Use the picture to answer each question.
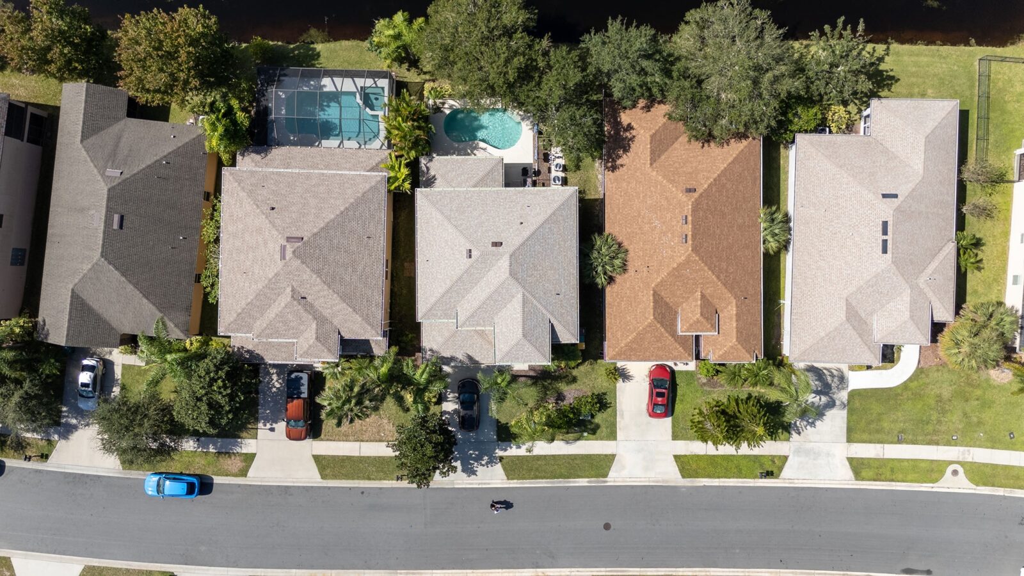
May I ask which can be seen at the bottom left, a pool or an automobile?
automobile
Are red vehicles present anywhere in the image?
Yes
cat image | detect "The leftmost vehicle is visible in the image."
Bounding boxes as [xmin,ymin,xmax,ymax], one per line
[75,356,110,411]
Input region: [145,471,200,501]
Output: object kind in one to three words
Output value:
car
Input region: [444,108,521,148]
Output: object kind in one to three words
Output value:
swimming pool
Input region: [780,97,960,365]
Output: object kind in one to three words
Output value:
house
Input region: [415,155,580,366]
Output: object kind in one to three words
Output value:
house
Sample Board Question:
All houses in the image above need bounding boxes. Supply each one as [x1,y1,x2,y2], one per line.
[38,83,214,348]
[415,155,580,366]
[780,97,960,365]
[603,97,764,364]
[217,147,393,364]
[0,93,48,318]
[1001,149,1024,354]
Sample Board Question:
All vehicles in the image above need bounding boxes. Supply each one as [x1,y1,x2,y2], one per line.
[283,370,314,438]
[145,471,200,501]
[75,356,110,411]
[455,378,483,432]
[646,364,674,419]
